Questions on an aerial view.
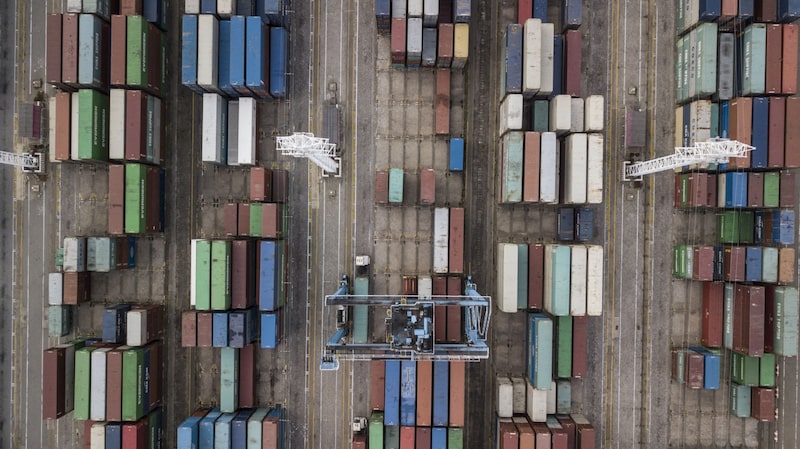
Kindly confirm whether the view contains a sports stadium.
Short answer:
No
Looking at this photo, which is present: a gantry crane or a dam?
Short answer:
gantry crane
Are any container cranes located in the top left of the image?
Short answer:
No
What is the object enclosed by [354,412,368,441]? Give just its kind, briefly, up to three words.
vehicle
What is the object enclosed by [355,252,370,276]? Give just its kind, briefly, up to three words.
vehicle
